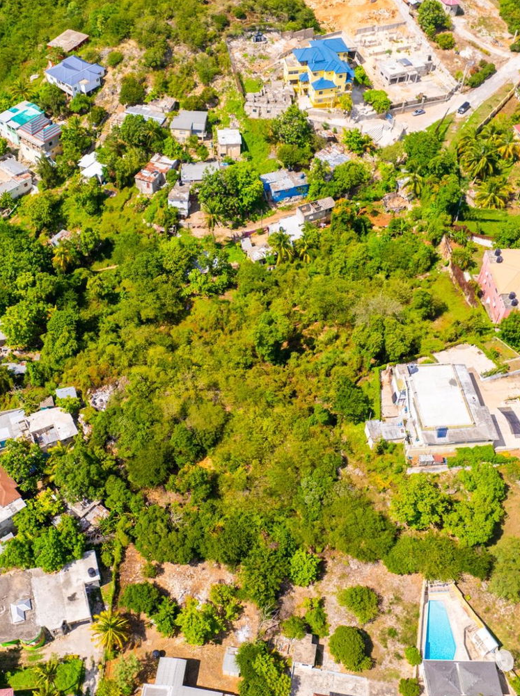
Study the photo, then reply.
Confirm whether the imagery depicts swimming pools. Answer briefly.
Yes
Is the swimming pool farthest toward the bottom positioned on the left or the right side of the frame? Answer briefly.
right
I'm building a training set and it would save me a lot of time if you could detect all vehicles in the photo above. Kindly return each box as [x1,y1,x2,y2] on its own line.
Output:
[412,108,426,115]
[458,100,470,112]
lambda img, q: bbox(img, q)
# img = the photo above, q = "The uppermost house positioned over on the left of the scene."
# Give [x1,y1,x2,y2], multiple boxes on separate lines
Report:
[47,28,89,60]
